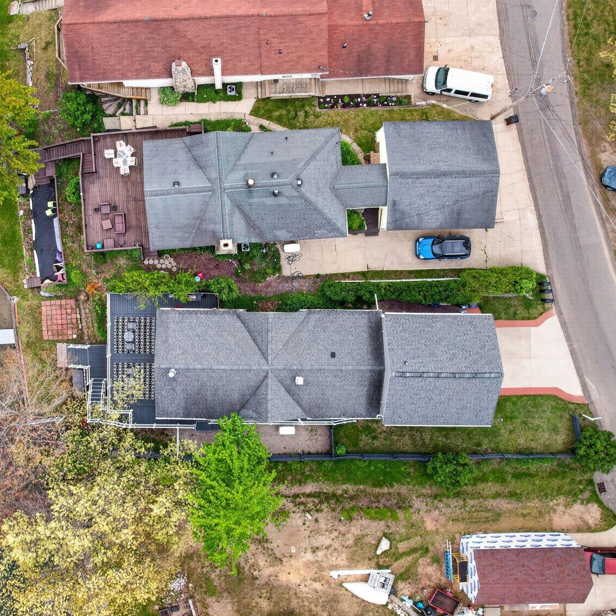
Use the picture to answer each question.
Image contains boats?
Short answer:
Yes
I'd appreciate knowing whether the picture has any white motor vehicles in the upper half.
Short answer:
Yes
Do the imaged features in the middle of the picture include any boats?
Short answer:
No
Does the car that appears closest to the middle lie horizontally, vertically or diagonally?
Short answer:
horizontally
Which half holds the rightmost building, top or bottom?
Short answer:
bottom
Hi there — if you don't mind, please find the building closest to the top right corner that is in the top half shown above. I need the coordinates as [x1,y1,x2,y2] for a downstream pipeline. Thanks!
[376,118,501,232]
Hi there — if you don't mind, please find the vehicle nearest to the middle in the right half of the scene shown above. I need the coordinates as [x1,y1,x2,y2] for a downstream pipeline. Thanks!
[414,233,471,262]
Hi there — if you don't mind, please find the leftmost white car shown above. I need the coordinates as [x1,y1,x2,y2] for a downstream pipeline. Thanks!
[422,63,497,102]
